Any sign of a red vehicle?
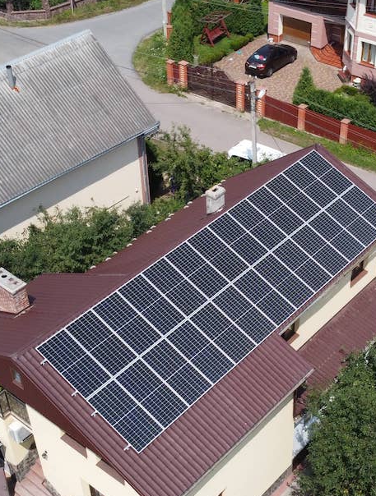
No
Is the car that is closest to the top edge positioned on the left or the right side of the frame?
right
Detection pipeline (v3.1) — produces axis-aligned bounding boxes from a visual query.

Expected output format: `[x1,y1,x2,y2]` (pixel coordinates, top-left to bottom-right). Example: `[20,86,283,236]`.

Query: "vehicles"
[241,37,300,74]
[220,140,289,169]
